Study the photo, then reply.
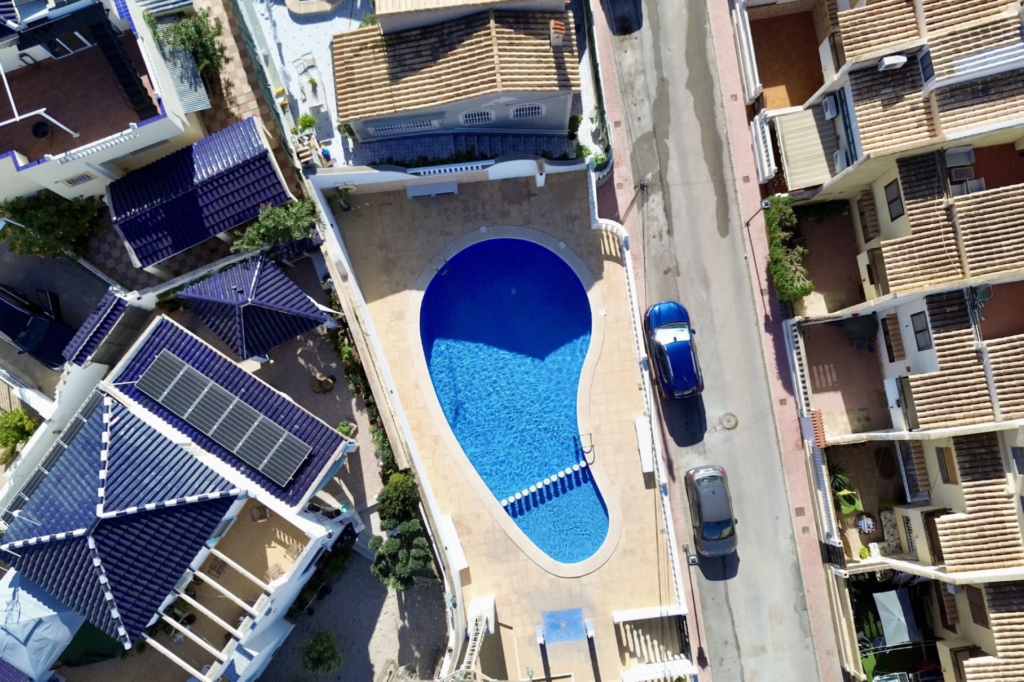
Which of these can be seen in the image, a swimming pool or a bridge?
swimming pool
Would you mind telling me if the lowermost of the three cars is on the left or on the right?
right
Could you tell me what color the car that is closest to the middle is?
blue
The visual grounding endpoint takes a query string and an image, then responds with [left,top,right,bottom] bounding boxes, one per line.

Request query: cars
[683,463,739,559]
[644,301,703,401]
[0,296,73,378]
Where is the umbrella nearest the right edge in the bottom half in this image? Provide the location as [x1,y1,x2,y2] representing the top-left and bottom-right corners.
[866,588,918,648]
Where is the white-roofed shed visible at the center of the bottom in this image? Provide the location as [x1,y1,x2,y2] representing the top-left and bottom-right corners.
[465,594,498,632]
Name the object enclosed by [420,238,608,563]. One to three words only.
swimming pool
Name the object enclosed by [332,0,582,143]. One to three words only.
house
